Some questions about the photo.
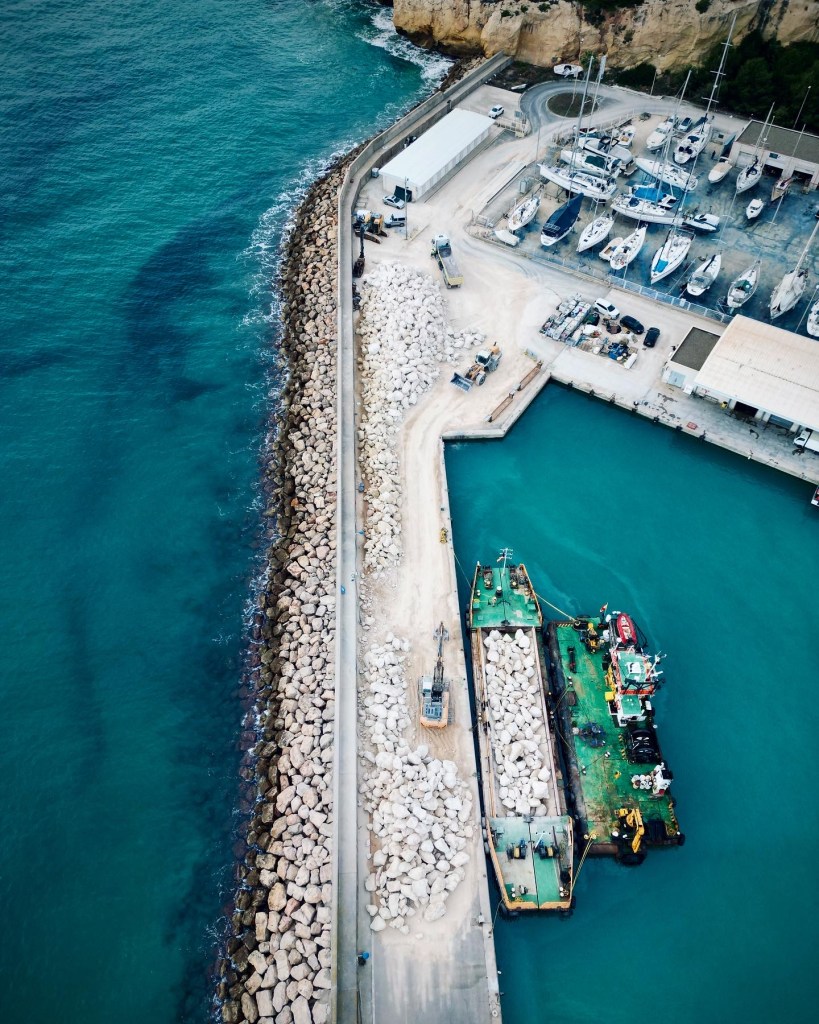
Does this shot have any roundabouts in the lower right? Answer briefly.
No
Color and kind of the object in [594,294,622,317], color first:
white car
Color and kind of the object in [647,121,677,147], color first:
white boat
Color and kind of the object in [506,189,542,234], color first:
white boat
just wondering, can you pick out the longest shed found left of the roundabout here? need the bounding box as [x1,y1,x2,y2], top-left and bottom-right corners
[377,107,501,210]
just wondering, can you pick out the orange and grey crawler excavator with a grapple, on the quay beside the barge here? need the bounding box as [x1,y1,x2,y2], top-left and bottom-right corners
[417,615,452,723]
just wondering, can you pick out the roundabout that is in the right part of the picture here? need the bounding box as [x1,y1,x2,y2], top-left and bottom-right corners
[548,92,597,117]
